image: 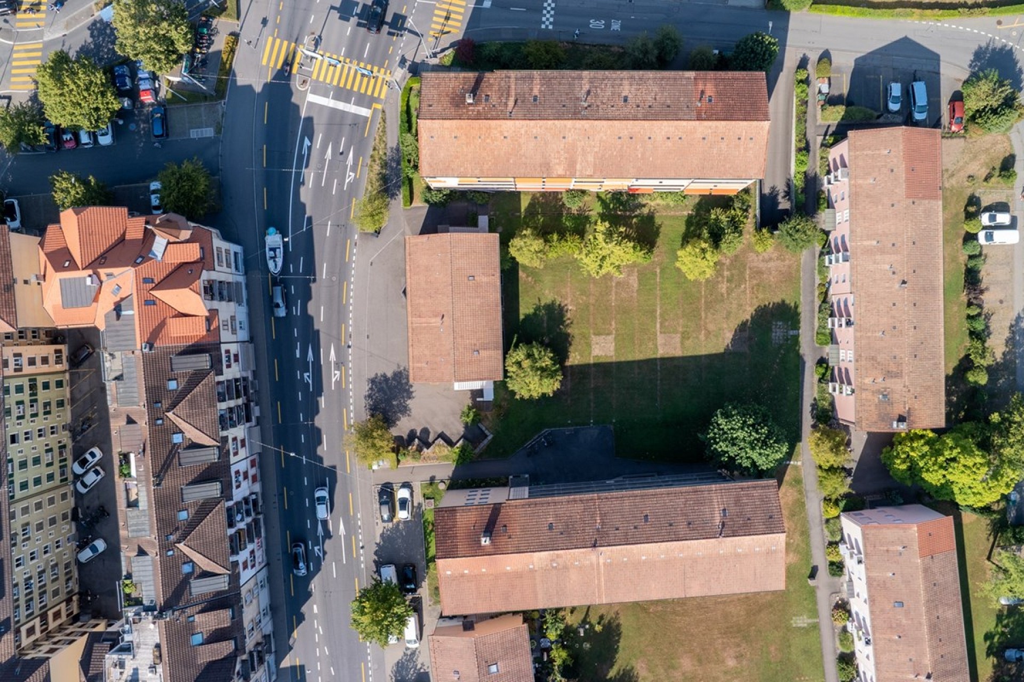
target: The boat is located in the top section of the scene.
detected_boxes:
[264,230,282,277]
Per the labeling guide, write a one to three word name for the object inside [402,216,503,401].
building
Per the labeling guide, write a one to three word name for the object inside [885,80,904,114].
car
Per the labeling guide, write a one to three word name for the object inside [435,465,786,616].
building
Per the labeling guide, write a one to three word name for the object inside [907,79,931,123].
vehicle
